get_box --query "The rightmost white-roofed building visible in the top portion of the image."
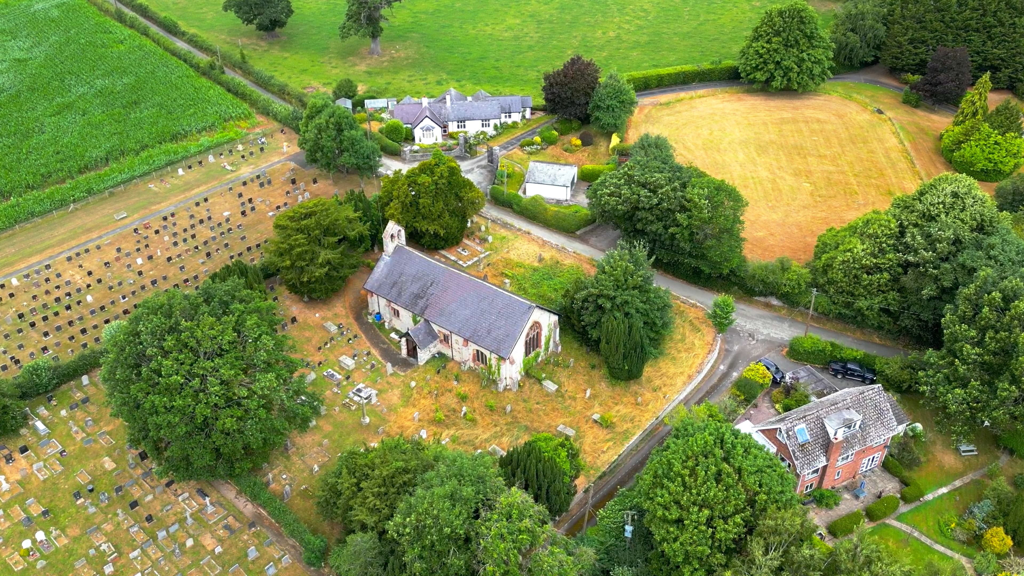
[525,162,577,199]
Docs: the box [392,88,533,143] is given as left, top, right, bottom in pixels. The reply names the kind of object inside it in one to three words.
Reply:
house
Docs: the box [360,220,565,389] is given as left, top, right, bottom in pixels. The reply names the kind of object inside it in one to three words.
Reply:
church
